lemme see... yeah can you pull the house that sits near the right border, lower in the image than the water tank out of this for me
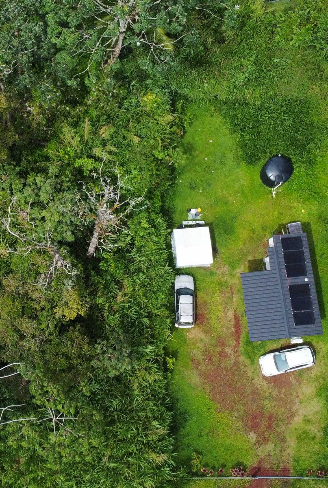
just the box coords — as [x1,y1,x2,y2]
[241,234,324,341]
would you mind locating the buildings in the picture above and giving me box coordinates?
[170,226,213,269]
[241,234,324,341]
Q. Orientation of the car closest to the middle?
vertically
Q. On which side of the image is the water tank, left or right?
right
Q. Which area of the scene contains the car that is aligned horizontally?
bottom right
